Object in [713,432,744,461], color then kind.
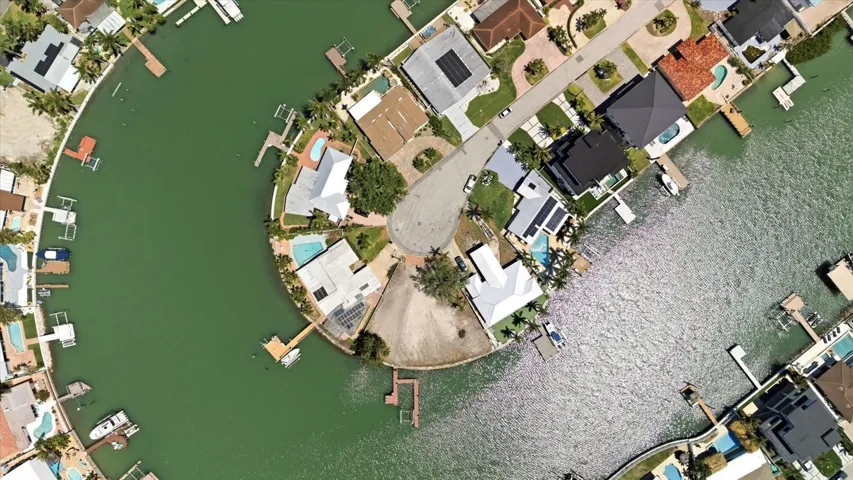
blue swimming pool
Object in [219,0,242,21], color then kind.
white boat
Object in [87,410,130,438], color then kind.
white boat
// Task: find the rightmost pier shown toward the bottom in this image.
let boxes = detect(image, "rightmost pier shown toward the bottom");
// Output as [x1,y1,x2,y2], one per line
[779,292,822,342]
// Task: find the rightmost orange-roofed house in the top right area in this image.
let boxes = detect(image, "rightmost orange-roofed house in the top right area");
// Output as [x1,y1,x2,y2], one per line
[657,33,729,101]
